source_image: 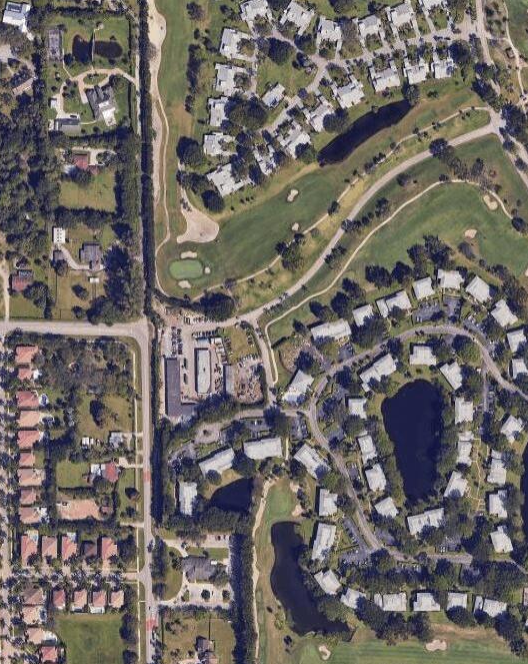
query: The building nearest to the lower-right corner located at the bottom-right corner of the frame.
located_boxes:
[473,596,507,619]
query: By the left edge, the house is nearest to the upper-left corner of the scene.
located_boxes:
[3,1,29,31]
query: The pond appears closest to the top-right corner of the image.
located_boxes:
[315,99,411,164]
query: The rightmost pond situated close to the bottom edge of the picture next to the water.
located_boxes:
[269,520,355,639]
